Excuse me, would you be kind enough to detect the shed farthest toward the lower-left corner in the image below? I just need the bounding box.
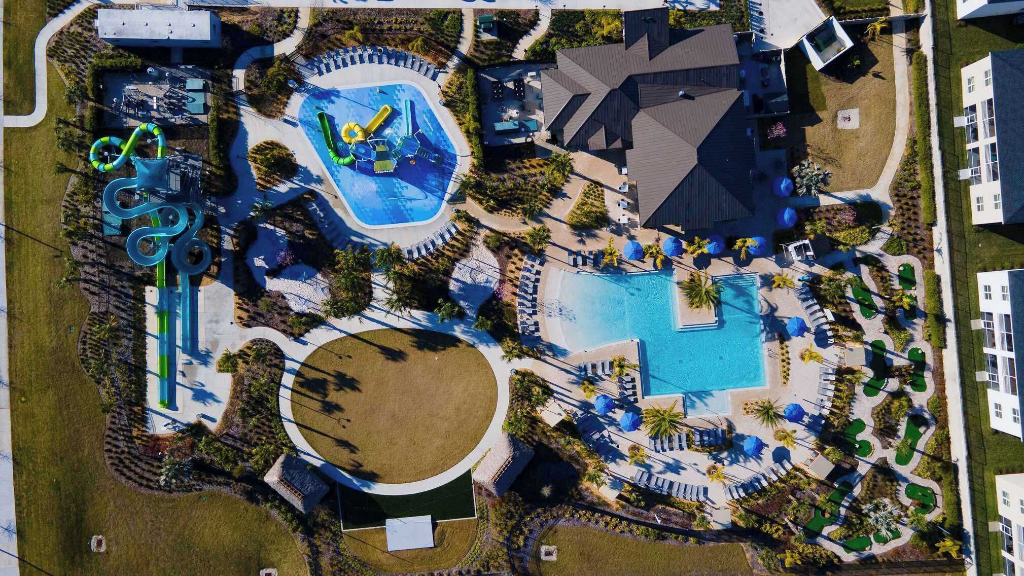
[264,454,329,513]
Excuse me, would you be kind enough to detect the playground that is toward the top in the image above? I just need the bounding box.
[316,100,442,179]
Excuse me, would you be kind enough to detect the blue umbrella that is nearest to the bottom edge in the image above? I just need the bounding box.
[742,436,763,457]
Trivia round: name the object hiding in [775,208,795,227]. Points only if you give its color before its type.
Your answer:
blue umbrella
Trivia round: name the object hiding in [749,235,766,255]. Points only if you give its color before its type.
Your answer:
blue umbrella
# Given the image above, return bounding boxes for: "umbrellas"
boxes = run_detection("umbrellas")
[594,395,614,414]
[783,401,803,421]
[620,410,640,431]
[773,176,793,197]
[621,240,643,261]
[663,237,683,257]
[785,316,805,337]
[742,436,763,457]
[749,235,766,255]
[775,208,795,227]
